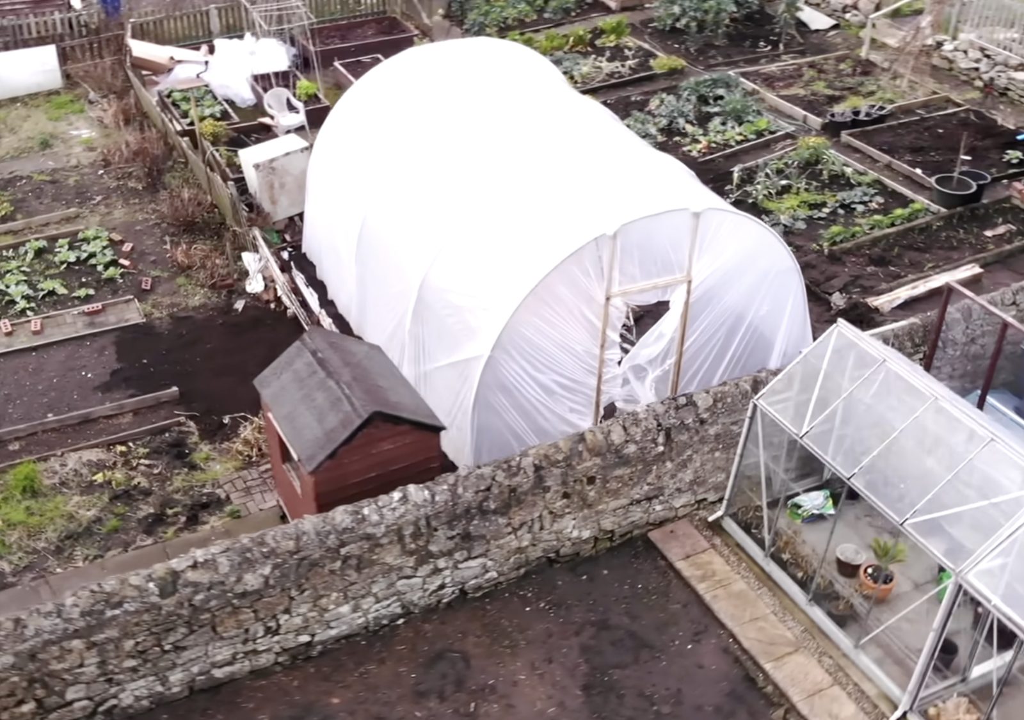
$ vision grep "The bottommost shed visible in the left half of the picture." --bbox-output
[250,323,450,527]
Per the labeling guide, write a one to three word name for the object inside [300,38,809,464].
greenhouse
